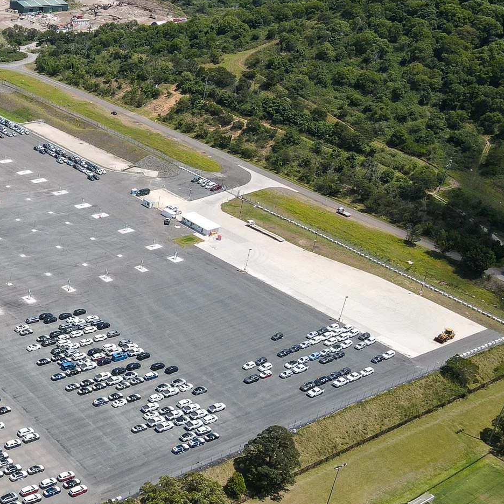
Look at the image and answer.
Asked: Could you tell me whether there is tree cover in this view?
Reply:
Yes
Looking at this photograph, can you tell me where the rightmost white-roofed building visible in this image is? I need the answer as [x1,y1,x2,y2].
[181,212,225,237]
